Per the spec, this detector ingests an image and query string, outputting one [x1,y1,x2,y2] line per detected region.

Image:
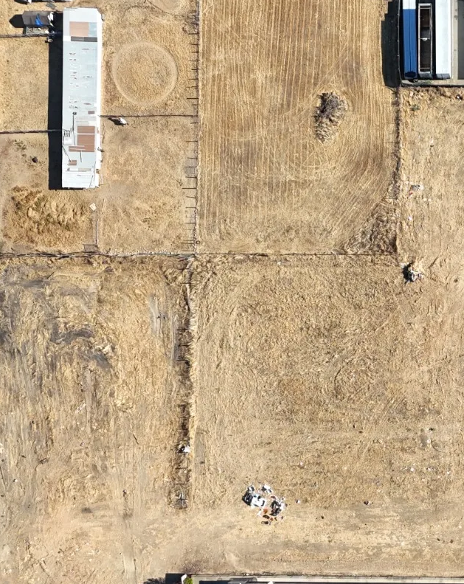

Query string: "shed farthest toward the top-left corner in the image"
[23,12,55,29]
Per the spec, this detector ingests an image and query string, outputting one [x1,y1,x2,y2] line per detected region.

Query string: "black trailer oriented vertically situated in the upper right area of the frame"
[419,2,433,76]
